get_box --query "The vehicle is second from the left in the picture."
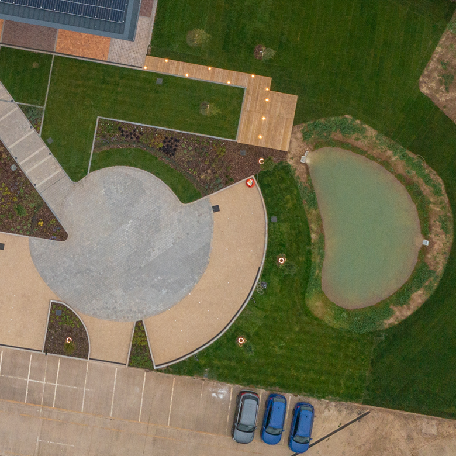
[258,392,287,445]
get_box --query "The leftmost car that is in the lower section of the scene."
[231,389,261,443]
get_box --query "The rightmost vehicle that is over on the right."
[286,400,314,453]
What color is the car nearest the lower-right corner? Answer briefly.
blue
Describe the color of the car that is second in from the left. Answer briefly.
blue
